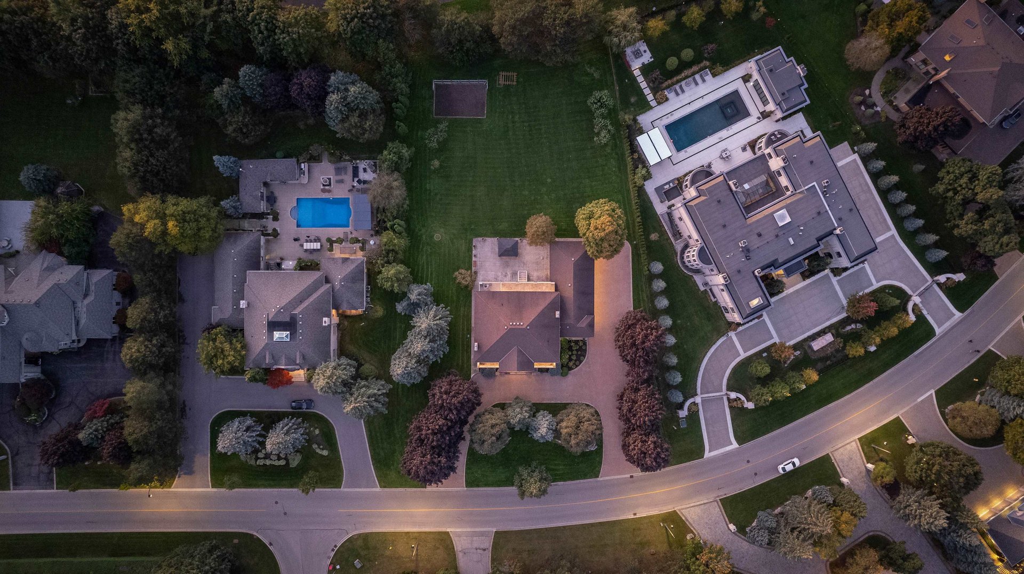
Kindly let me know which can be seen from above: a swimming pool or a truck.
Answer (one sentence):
It is a swimming pool that can be seen here.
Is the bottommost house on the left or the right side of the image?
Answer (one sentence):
The bottommost house appears in the right half of the scene.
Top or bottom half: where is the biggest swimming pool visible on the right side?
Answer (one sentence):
You can find the biggest swimming pool visible on the right side in the top half.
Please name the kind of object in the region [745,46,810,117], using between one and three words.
shed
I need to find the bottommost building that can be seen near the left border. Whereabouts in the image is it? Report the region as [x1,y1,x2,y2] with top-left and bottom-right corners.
[0,250,124,384]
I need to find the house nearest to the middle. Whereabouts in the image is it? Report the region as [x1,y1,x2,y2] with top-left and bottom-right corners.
[473,241,595,375]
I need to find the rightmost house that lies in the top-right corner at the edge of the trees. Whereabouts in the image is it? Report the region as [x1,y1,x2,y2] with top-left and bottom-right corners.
[898,0,1024,128]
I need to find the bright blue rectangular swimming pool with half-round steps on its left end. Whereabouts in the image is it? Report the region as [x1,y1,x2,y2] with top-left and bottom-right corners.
[288,196,353,229]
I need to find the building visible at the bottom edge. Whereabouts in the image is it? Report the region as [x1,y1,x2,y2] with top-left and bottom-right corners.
[970,476,1024,567]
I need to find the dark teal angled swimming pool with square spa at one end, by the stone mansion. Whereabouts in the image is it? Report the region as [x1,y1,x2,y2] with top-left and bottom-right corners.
[662,88,753,153]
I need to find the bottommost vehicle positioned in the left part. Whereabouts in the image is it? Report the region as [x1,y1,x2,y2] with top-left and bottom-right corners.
[291,399,315,411]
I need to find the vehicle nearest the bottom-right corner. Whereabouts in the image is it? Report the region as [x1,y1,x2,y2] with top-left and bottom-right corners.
[777,458,800,474]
